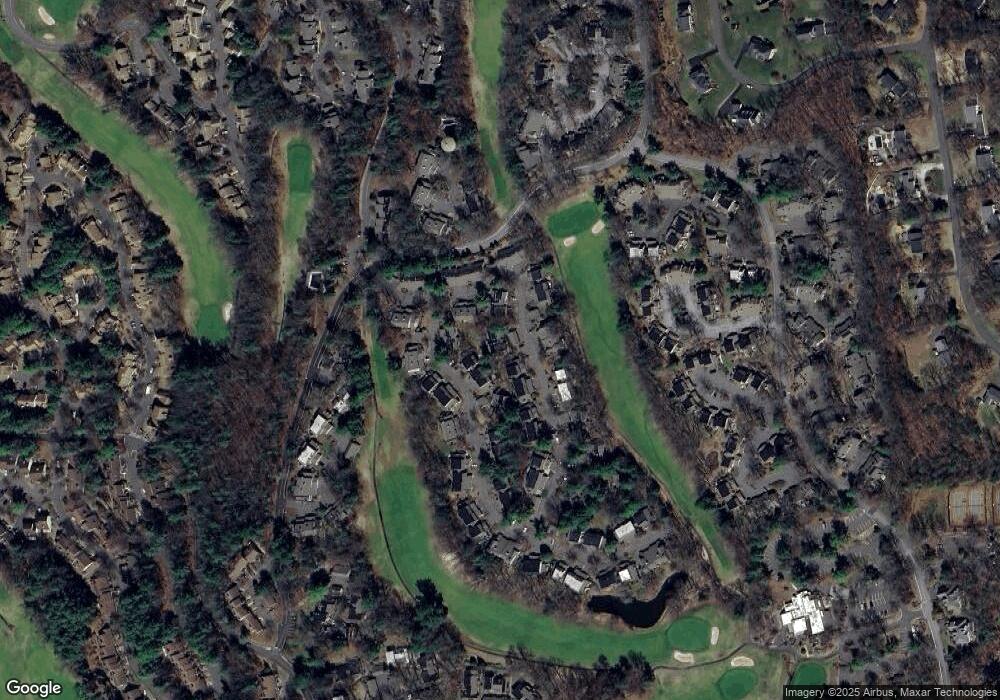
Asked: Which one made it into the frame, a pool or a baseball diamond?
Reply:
pool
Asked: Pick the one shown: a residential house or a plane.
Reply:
residential house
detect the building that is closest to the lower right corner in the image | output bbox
[947,623,973,642]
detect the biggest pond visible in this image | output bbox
[588,571,690,627]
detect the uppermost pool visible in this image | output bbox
[868,130,893,150]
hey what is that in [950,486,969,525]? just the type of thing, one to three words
tennis court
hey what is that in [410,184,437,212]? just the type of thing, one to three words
building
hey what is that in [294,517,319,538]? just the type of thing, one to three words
house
